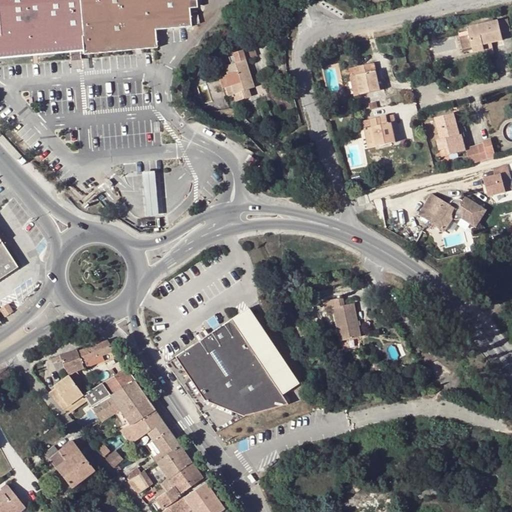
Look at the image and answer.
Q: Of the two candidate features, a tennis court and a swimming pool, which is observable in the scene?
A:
swimming pool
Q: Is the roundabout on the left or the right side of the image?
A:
left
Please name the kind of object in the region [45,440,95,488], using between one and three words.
house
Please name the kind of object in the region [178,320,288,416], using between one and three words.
building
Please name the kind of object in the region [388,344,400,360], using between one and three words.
swimming pool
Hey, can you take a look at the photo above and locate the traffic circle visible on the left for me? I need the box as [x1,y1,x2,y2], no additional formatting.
[52,229,142,318]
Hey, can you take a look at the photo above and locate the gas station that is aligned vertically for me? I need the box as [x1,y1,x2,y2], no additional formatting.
[138,171,166,232]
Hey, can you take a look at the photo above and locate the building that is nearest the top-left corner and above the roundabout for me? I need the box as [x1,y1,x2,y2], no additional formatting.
[0,0,84,58]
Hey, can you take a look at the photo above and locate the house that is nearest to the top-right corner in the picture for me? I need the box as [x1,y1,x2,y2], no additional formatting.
[458,20,502,52]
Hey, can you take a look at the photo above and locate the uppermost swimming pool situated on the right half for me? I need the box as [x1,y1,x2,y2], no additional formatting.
[322,64,342,92]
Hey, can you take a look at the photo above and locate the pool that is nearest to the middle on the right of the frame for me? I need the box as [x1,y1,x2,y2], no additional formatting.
[344,140,368,170]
